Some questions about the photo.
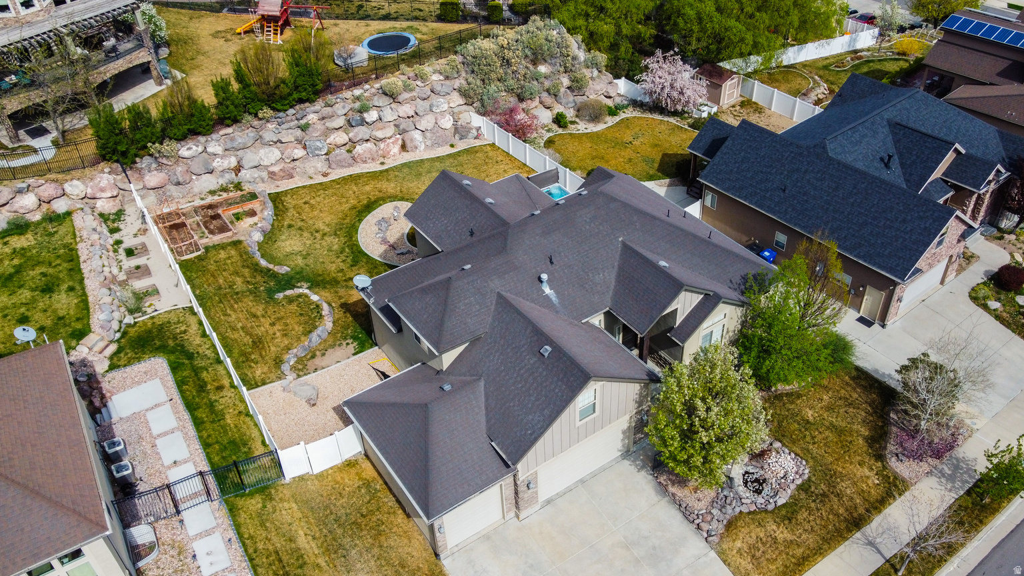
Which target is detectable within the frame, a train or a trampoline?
trampoline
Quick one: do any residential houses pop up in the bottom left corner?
Yes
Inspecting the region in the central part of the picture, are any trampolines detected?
No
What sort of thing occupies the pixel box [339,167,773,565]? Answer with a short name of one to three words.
house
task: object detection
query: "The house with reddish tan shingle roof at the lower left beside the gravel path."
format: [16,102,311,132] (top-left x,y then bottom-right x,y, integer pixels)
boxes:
[0,341,125,576]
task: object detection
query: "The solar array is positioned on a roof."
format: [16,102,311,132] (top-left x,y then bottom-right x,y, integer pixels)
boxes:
[941,13,1024,45]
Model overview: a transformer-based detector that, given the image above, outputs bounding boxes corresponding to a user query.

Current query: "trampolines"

[360,30,420,65]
